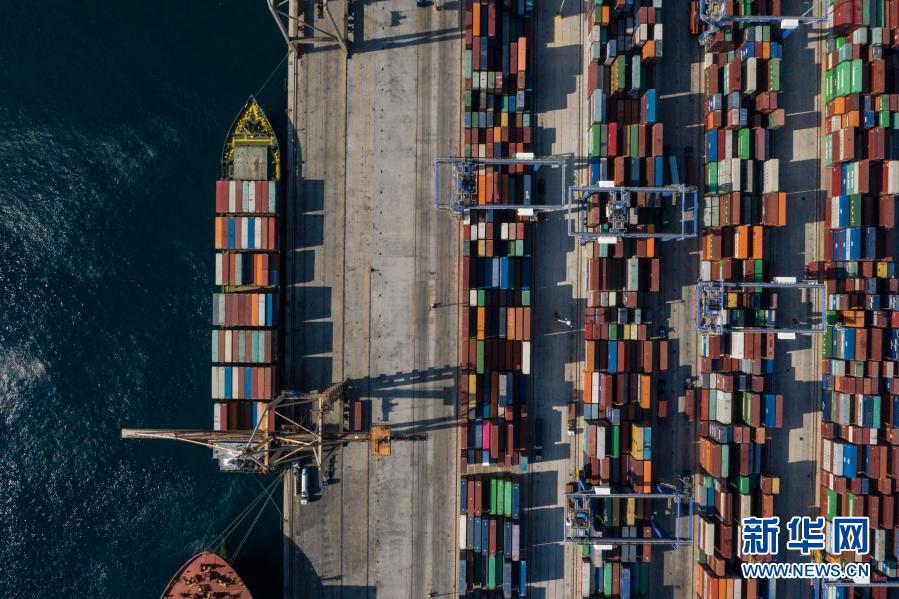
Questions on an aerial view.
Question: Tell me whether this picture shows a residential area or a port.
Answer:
port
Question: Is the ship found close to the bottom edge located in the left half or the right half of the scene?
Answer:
left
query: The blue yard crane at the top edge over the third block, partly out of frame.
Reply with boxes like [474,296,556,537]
[698,0,830,50]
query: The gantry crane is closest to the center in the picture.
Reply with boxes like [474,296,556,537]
[437,148,565,225]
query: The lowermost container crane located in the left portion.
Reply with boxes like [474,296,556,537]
[119,377,424,469]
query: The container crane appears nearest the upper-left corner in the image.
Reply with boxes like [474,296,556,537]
[263,0,348,68]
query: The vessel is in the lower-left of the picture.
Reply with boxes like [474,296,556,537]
[161,550,252,599]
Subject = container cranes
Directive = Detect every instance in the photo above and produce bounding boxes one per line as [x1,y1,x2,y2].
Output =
[263,0,348,68]
[565,471,694,553]
[568,177,697,249]
[694,274,826,343]
[119,377,424,469]
[698,0,830,50]
[437,148,565,225]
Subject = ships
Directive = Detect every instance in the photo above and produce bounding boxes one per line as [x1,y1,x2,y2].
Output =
[210,95,282,471]
[161,550,252,599]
